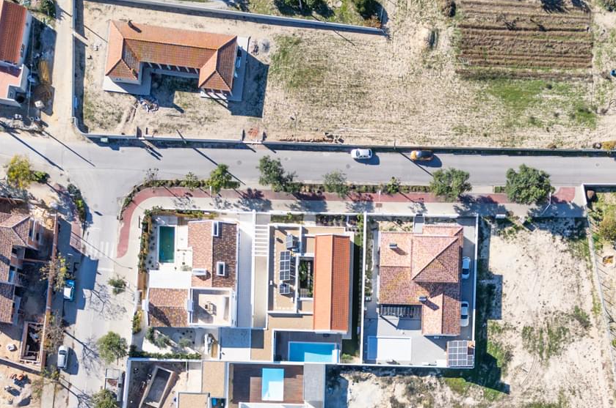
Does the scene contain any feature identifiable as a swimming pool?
Yes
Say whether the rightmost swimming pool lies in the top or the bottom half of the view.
bottom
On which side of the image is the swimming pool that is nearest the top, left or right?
left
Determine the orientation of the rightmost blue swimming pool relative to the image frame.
from left to right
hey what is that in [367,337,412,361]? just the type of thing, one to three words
swimming pool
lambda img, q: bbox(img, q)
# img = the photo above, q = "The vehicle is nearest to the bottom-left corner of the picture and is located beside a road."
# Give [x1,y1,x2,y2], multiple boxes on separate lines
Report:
[57,348,70,370]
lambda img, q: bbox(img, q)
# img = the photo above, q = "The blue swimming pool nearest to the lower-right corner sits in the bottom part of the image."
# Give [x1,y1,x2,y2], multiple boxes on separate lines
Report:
[287,342,337,362]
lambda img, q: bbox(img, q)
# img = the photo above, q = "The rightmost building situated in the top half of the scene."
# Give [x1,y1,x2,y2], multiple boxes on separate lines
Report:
[103,21,250,102]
